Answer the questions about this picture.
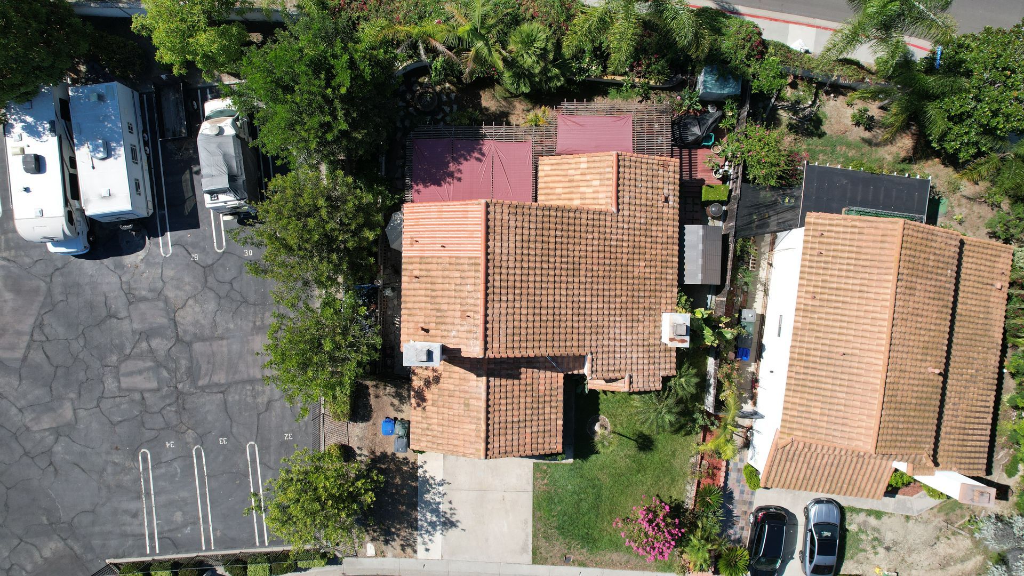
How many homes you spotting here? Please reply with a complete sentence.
In total, 2 homes can be seen.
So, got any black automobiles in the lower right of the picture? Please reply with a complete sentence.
Yes, a black automobile is visible in the lower right of the picture.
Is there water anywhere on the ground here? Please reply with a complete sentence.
No, there is no water in the image.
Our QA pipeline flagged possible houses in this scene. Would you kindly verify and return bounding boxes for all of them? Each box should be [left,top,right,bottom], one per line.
[399,148,691,461]
[747,211,1016,506]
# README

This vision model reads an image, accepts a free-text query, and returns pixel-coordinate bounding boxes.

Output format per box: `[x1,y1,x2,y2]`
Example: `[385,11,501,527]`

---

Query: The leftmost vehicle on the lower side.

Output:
[746,510,791,576]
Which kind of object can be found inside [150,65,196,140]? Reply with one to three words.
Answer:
trailer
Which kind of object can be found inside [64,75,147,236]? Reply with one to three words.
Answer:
trailer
